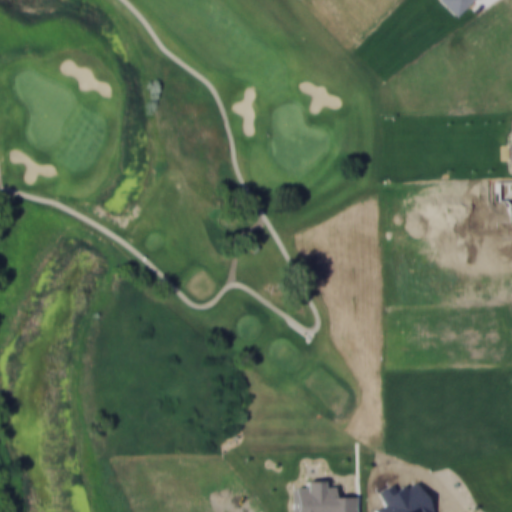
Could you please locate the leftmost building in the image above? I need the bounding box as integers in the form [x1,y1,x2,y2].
[294,482,359,512]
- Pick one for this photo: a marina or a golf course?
golf course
